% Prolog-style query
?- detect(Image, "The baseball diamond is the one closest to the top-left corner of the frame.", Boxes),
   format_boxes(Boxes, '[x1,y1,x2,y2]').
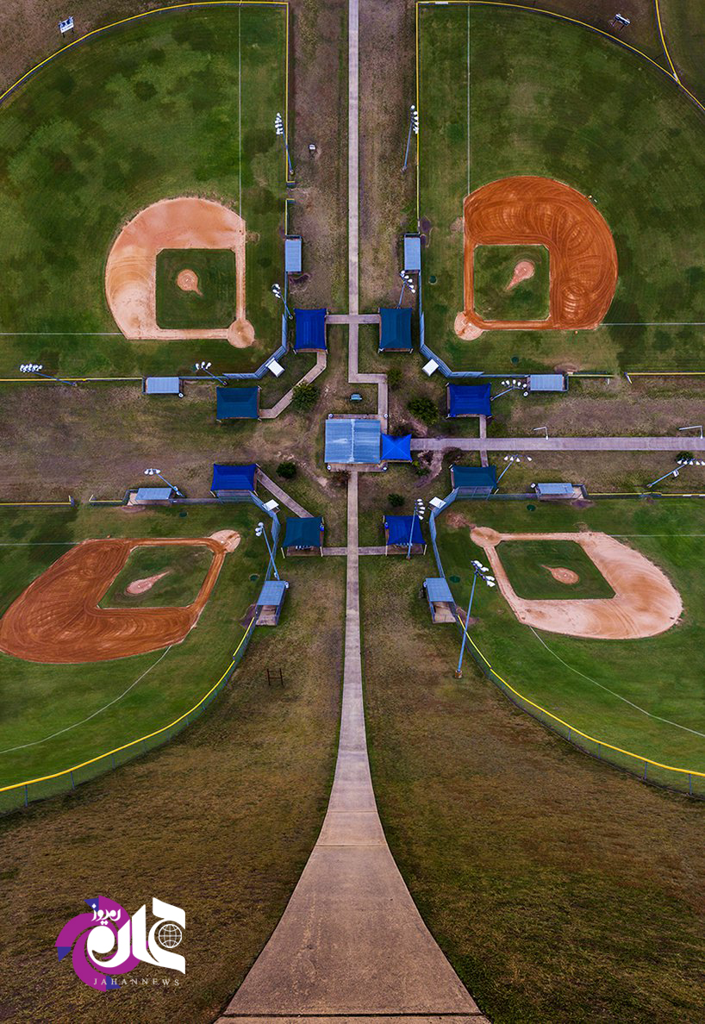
[0,7,287,379]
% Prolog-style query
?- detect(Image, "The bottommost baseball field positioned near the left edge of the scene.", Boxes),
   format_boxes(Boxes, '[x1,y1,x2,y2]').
[0,502,277,812]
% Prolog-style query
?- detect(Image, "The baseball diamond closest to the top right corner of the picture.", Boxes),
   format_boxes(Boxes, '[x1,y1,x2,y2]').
[417,7,705,376]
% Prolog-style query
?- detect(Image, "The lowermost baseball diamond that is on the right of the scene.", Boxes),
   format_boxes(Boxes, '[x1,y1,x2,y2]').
[433,498,705,798]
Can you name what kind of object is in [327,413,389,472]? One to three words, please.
building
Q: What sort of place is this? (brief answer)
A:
sports ground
